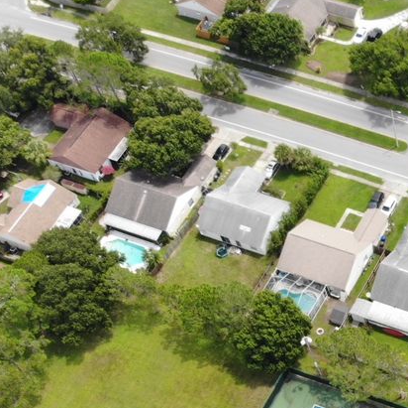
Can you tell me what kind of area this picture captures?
residential area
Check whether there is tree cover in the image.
Yes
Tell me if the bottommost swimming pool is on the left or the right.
right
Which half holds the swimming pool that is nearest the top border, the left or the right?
left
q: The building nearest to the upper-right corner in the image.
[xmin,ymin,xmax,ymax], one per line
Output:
[267,0,368,45]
